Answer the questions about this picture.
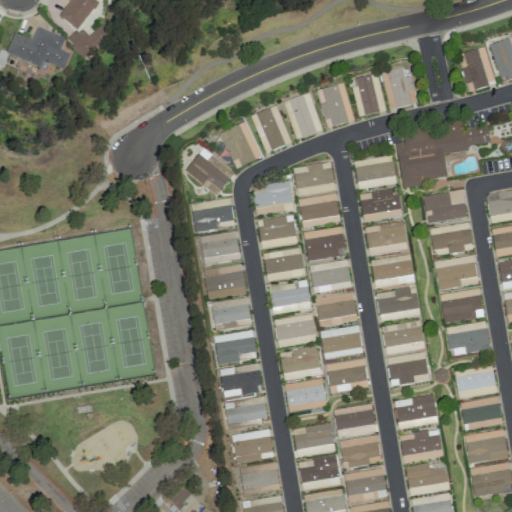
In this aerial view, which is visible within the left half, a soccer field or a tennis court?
tennis court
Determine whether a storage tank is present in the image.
No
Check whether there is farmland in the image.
No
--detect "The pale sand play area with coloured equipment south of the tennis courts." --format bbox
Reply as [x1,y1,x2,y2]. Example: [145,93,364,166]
[72,420,138,472]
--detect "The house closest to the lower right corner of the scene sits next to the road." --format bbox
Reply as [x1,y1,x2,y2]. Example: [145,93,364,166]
[468,464,512,498]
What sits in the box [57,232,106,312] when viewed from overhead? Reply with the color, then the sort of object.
green tennis court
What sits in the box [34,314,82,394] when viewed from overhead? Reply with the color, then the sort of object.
green tennis court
